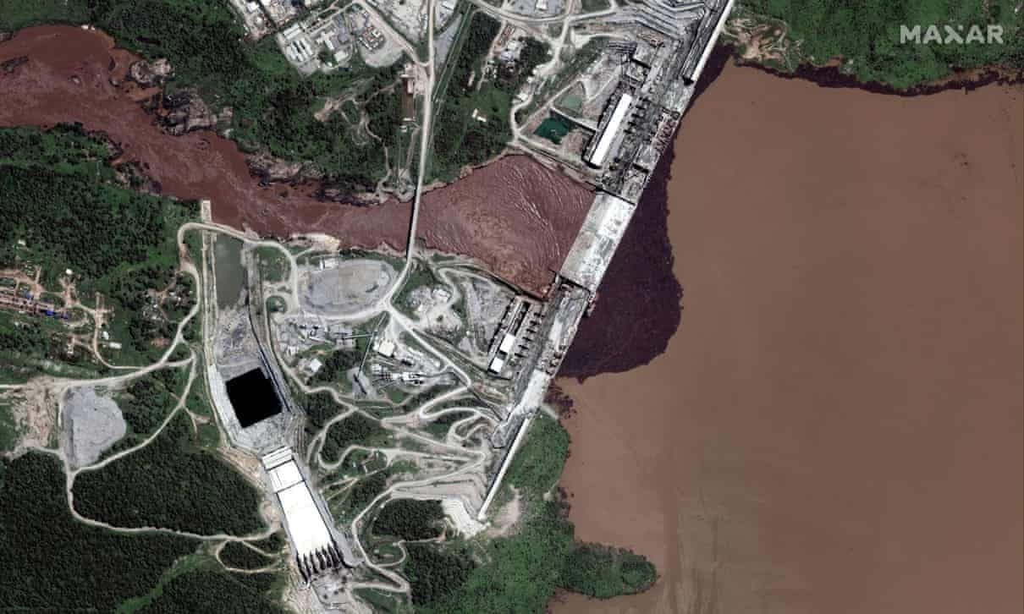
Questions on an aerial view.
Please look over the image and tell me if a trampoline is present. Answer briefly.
No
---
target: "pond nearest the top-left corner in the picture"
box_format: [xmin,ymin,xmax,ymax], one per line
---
[216,231,248,308]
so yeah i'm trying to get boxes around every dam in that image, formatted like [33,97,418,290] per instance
[476,0,734,520]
